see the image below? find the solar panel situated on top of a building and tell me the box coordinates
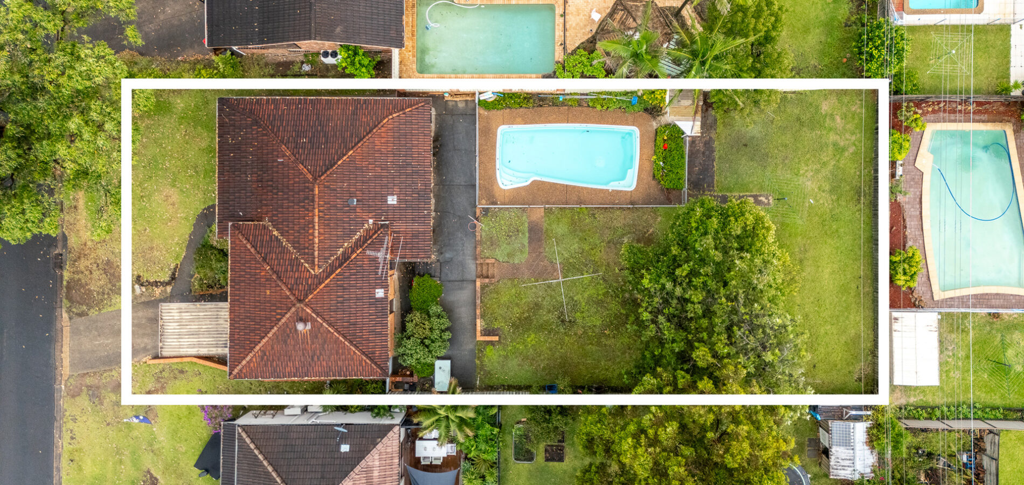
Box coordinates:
[831,422,850,447]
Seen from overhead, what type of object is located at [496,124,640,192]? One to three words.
swimming pool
